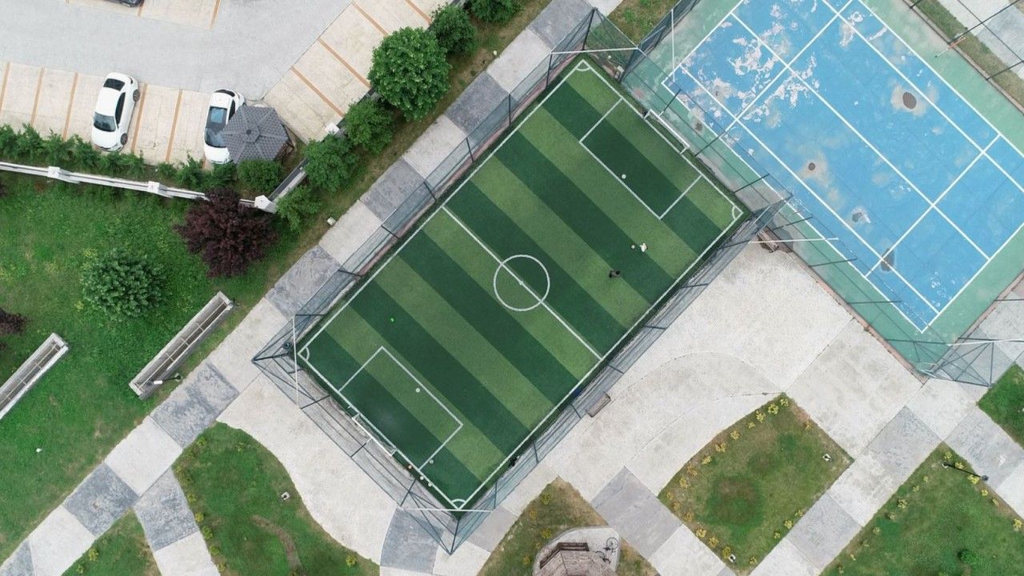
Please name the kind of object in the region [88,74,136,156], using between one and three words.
car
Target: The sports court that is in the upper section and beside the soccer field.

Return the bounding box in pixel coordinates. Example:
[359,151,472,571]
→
[621,0,1024,379]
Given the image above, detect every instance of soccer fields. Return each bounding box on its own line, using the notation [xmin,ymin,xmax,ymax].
[282,45,757,524]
